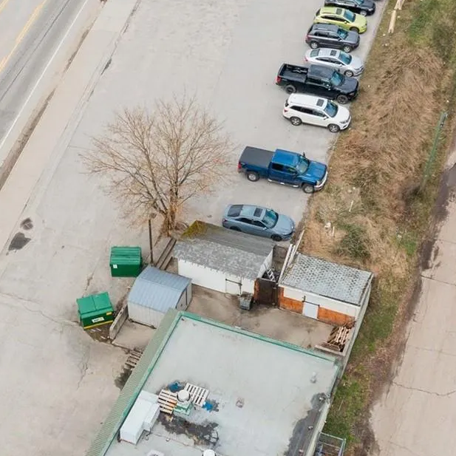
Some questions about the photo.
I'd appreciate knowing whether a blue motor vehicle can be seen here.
Yes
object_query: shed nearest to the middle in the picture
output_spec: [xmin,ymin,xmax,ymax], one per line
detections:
[173,215,276,298]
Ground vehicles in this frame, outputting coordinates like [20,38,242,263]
[284,94,350,132]
[223,207,294,242]
[323,0,376,18]
[304,48,364,77]
[236,150,328,194]
[313,6,367,35]
[276,62,356,99]
[305,21,360,54]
